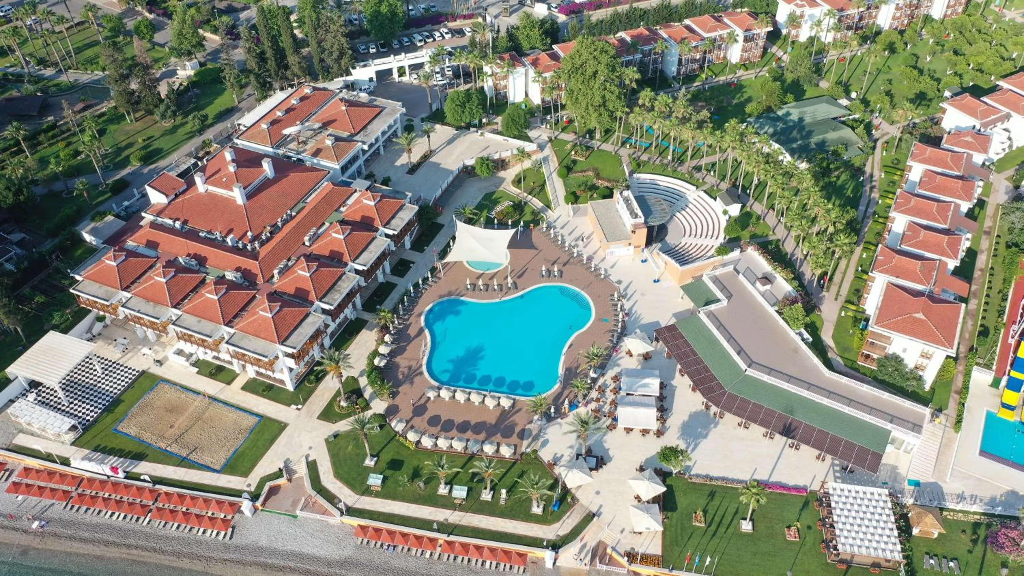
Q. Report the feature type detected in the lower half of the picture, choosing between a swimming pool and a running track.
swimming pool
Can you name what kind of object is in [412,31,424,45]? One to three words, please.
vehicle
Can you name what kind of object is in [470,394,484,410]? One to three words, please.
umbrella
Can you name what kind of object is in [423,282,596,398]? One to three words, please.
swimming pool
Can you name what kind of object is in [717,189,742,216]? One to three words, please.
shed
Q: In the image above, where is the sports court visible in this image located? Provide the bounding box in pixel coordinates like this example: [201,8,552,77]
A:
[113,379,261,473]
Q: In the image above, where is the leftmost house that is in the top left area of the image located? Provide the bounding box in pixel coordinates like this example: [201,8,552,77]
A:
[0,97,47,125]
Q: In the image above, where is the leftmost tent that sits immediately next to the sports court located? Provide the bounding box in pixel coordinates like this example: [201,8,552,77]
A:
[3,395,83,441]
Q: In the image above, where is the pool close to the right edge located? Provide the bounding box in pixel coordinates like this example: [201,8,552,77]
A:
[978,408,1024,472]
